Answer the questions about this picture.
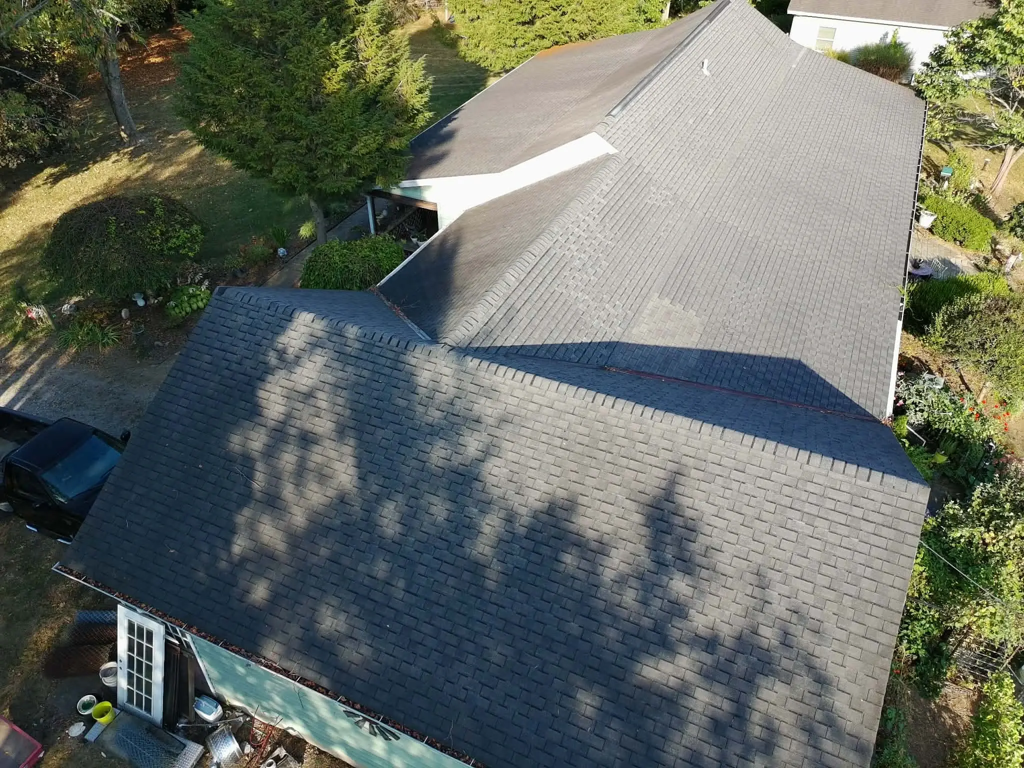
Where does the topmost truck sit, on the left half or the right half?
left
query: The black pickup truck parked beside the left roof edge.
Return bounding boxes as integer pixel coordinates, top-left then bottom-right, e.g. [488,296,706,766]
[0,390,126,547]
